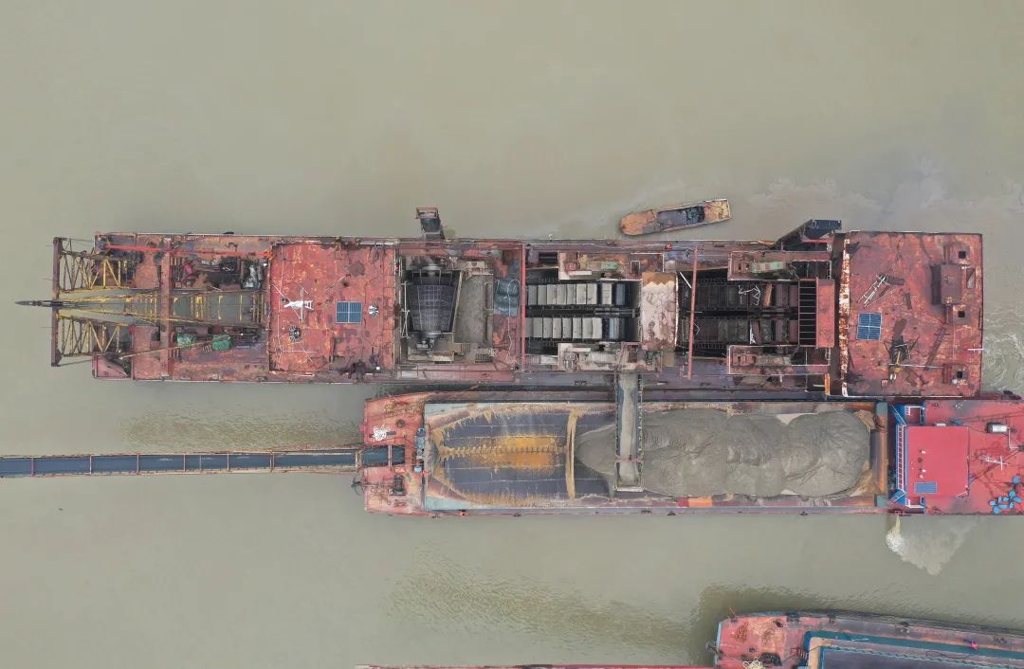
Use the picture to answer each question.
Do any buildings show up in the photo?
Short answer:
No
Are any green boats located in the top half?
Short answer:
No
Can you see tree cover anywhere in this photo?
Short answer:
No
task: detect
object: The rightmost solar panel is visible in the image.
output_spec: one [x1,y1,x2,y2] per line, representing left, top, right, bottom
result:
[914,482,937,494]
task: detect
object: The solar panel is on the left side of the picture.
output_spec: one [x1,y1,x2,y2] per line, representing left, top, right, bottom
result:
[336,301,362,323]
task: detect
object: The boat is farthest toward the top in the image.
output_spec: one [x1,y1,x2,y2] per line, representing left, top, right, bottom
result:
[619,199,731,235]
